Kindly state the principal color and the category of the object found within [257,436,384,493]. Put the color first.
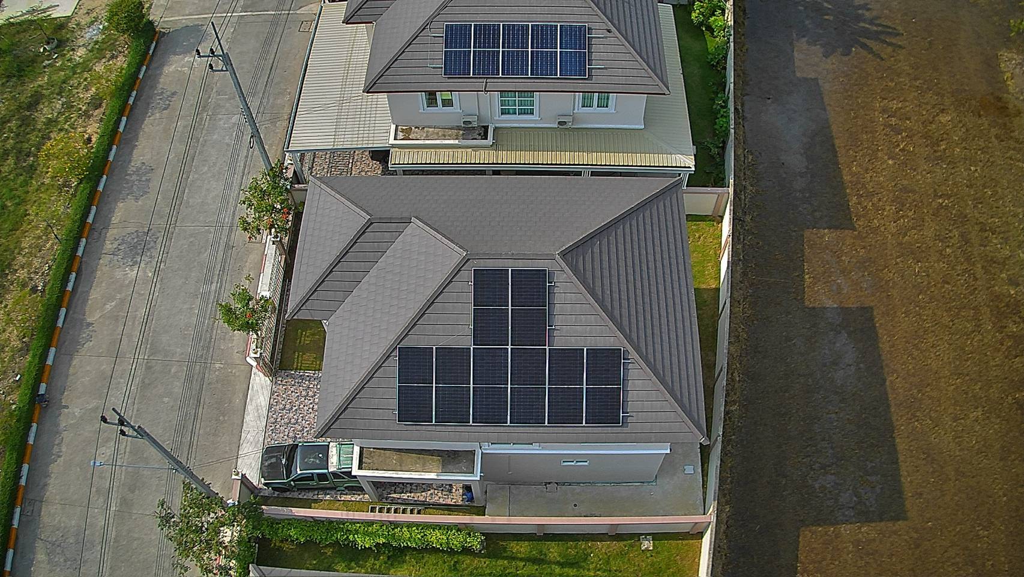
black car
